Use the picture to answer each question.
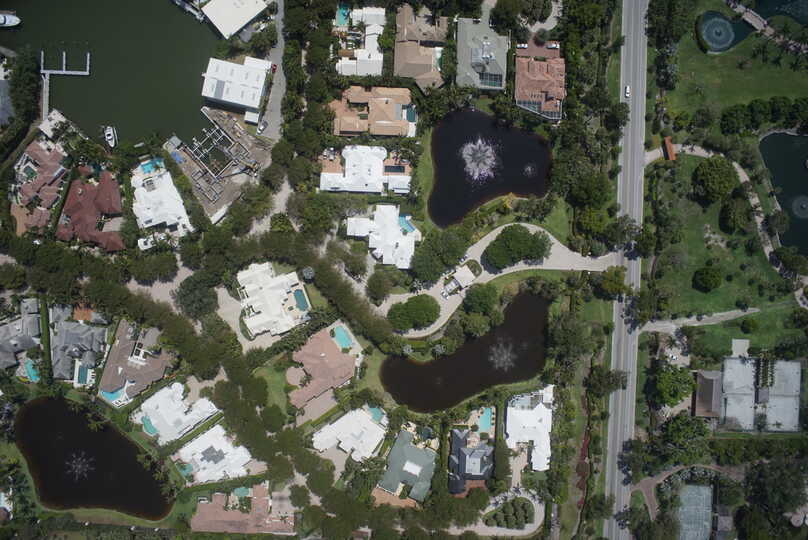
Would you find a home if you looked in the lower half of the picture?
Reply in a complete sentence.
Yes, the scene does show a home in the lower half of the picture.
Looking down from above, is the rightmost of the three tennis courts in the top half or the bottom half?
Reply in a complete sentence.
The bottom half of the photo is where the rightmost of the three tennis courts is.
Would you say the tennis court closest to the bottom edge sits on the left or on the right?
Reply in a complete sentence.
You can find the tennis court closest to the bottom edge on the right side of the picture.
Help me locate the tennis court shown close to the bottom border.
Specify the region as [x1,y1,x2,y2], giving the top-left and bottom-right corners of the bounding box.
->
[679,486,713,540]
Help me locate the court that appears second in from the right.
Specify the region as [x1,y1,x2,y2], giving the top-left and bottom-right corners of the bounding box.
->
[724,358,754,431]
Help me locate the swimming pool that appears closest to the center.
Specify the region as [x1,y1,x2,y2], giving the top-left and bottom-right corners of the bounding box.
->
[399,214,415,233]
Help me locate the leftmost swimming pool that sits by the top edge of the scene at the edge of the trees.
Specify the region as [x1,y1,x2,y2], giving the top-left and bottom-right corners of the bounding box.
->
[337,4,350,26]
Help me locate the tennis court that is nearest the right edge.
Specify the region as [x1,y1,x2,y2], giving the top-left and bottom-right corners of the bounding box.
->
[769,360,801,432]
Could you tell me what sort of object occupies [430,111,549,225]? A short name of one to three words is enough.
pond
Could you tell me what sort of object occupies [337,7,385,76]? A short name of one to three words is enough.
house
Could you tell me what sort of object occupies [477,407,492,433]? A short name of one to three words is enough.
swimming pool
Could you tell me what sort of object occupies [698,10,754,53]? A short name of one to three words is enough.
pond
